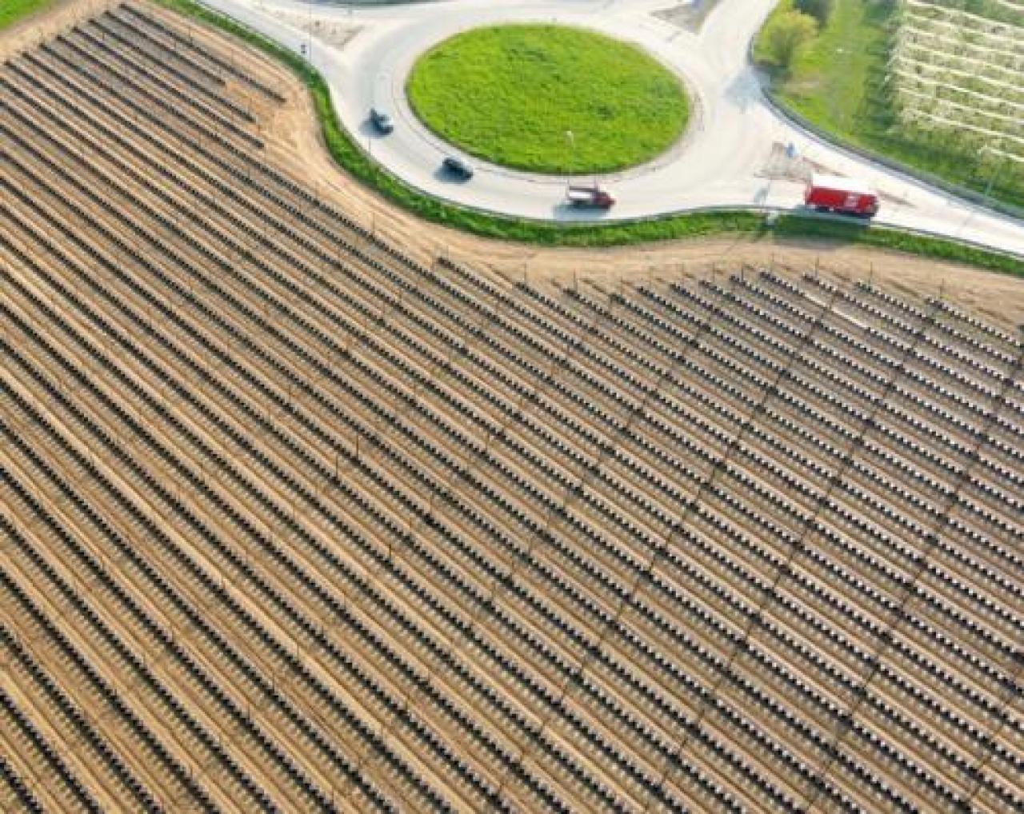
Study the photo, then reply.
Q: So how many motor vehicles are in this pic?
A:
4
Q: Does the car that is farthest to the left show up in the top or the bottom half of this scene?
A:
top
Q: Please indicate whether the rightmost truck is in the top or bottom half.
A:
top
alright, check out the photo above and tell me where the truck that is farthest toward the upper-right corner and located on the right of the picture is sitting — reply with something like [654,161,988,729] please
[805,176,880,218]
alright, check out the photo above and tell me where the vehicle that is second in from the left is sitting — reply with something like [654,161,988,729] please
[440,155,475,177]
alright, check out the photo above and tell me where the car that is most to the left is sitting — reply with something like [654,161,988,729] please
[368,111,395,133]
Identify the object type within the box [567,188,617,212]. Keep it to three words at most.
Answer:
truck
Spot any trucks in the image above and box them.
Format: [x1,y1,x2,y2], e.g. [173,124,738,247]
[805,176,880,218]
[567,188,617,212]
